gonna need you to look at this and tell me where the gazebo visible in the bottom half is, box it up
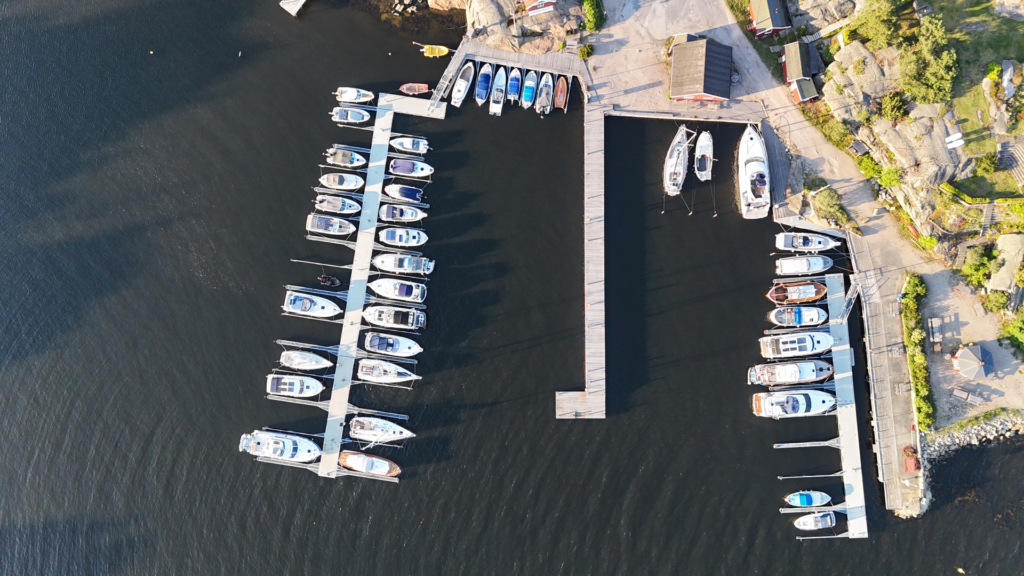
[952,345,994,384]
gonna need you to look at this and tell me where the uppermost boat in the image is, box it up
[416,45,459,59]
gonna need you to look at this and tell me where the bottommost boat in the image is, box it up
[792,509,837,531]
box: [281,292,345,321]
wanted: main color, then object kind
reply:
white boat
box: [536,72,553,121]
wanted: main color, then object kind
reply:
white boat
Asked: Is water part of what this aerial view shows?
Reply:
Yes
